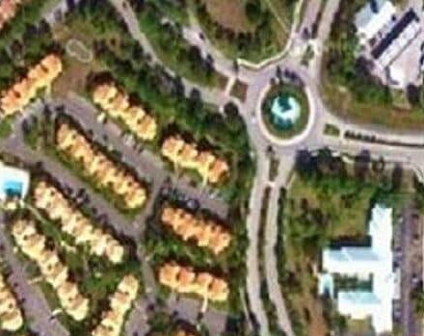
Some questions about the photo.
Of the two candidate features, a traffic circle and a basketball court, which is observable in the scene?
traffic circle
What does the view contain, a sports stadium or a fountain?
fountain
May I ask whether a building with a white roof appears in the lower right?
Yes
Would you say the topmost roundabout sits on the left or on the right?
right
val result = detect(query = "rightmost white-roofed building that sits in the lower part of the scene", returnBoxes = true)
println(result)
[319,205,401,333]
